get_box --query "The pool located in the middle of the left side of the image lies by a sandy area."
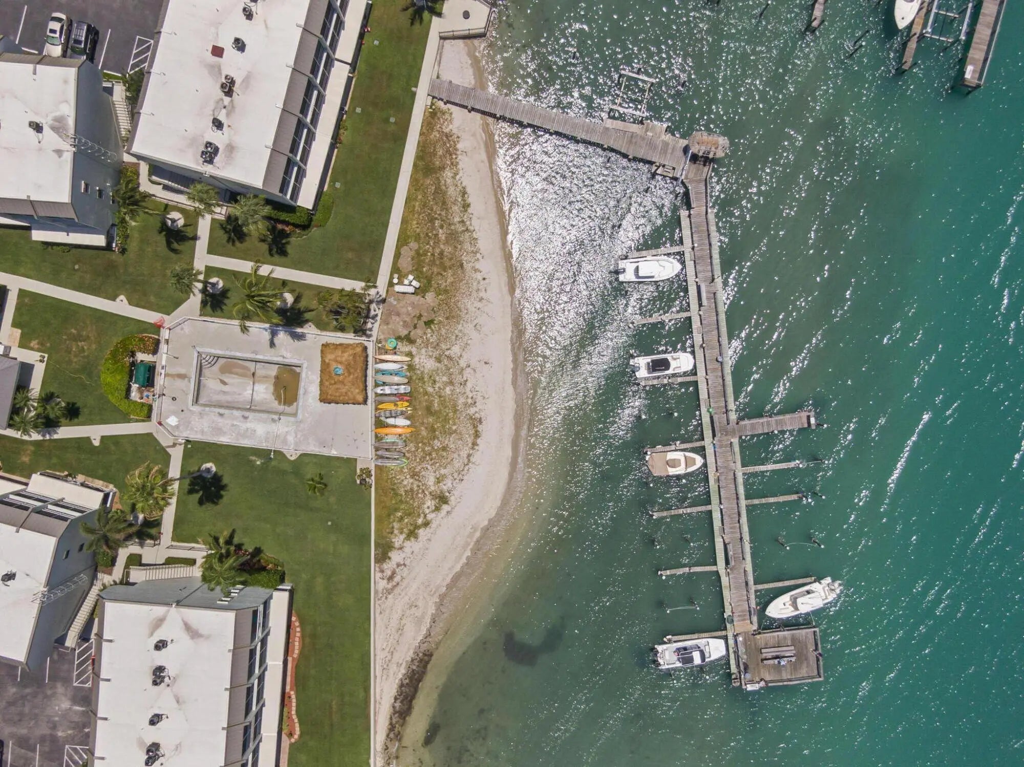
[158,318,372,459]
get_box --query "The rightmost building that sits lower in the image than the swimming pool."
[88,560,294,767]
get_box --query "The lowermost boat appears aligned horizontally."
[649,637,726,668]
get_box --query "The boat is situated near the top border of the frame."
[887,0,921,36]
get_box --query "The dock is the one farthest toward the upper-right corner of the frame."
[955,0,1006,91]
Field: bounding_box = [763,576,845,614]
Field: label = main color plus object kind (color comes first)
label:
white boat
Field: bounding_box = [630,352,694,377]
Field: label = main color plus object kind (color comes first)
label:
white boat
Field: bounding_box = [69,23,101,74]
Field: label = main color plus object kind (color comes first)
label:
black car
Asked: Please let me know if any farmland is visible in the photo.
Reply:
No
